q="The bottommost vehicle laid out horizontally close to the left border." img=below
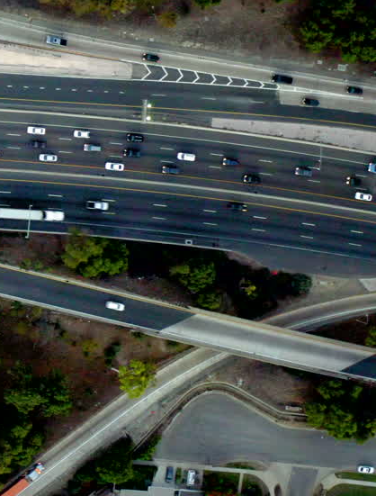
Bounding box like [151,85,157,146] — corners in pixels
[0,208,64,222]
